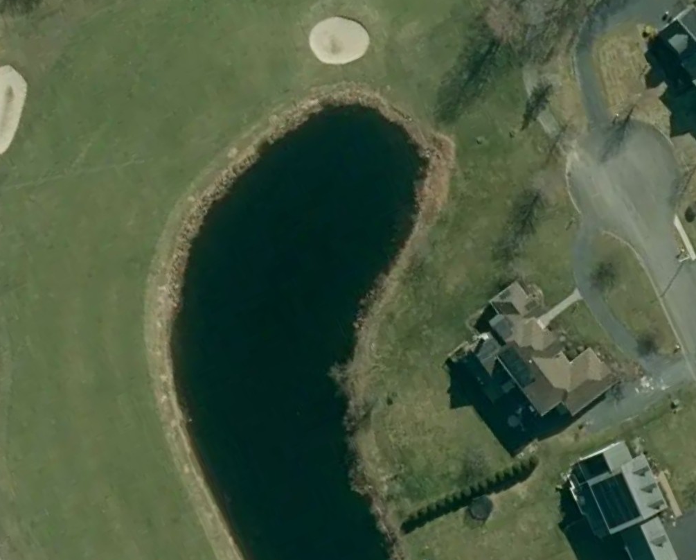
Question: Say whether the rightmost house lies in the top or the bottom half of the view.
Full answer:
Seen from above, the rightmost house lies in the top half of the view.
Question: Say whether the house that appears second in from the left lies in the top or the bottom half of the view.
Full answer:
The bottom half of the photo is where the house that appears second in from the left is.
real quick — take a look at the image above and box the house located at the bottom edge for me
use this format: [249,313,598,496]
[568,441,678,560]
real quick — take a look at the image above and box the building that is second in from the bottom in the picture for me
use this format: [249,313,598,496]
[477,281,620,416]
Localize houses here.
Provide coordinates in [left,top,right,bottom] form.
[659,3,696,83]
[477,281,620,416]
[568,441,678,560]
